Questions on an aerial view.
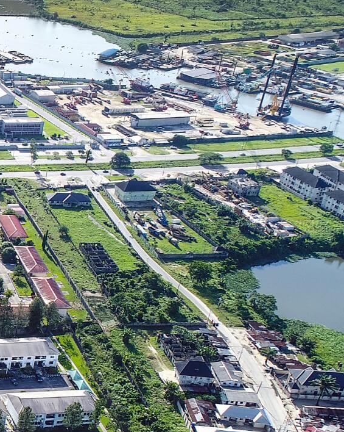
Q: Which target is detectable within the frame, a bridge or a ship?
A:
ship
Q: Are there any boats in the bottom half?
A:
No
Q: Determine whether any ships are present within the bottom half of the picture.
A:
No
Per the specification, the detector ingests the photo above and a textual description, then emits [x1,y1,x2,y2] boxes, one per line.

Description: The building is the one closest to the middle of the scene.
[115,183,157,201]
